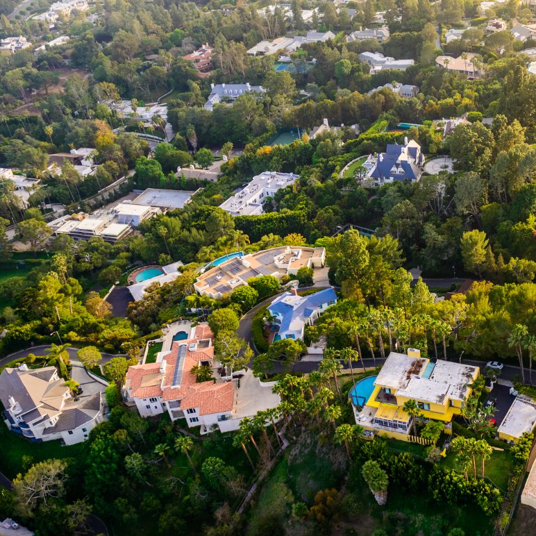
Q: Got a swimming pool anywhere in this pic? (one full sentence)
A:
Yes, the image includes a swimming pool.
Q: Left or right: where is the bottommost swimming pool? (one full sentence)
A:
It is on the right.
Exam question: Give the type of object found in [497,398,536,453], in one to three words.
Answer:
building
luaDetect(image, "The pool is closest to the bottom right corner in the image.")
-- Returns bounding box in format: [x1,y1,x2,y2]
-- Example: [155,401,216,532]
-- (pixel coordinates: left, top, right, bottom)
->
[349,374,378,406]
